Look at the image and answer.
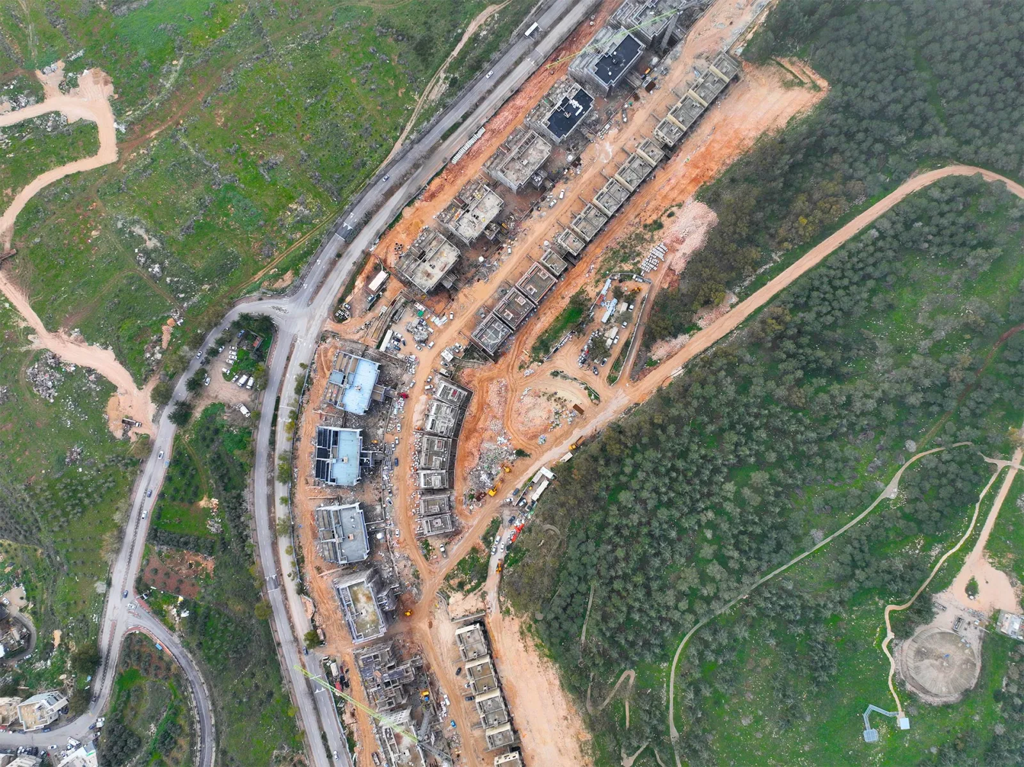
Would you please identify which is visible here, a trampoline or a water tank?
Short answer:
water tank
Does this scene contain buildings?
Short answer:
Yes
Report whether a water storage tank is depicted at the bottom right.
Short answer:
Yes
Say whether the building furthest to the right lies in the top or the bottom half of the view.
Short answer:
bottom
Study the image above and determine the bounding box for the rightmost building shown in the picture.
[994,610,1024,638]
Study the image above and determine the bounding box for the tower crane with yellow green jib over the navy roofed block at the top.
[547,0,705,68]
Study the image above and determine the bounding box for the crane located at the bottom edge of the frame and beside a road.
[294,665,453,762]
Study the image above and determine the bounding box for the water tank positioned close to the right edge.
[907,629,975,696]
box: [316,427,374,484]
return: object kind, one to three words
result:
building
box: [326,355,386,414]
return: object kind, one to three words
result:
building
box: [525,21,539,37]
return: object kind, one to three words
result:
vehicle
